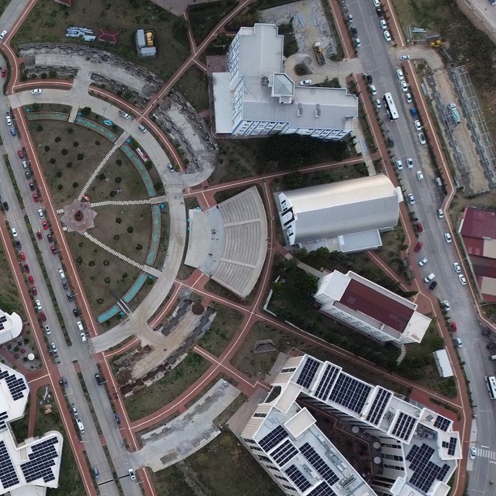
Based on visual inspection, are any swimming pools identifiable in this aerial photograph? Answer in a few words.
Yes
